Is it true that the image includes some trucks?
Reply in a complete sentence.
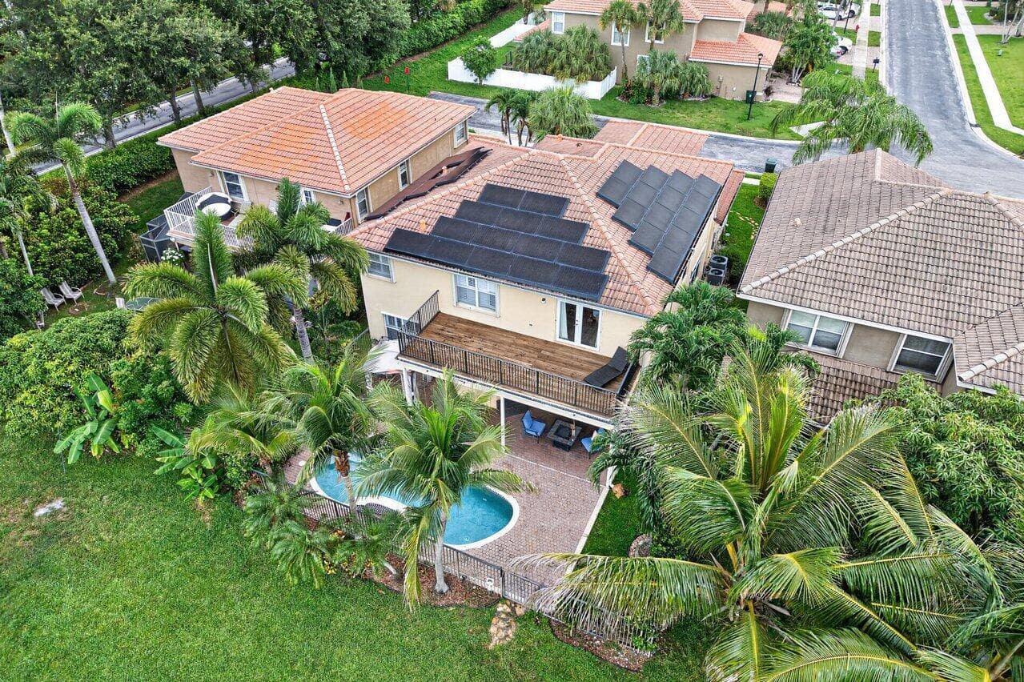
No, the picture doesn't show any truck.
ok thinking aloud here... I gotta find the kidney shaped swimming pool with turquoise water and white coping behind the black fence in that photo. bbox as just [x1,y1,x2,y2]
[310,444,519,547]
